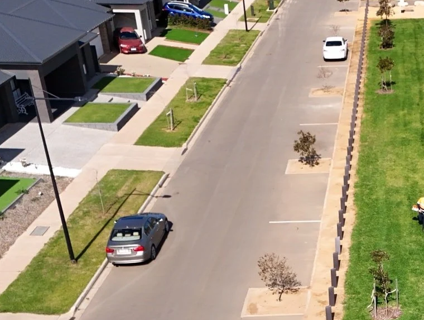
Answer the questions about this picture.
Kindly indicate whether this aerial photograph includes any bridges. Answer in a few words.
No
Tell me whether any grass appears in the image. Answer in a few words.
Yes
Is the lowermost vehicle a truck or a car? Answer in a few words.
car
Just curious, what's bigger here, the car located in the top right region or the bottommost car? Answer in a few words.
the bottommost car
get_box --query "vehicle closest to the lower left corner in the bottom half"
[103,209,169,266]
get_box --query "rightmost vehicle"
[323,33,352,58]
